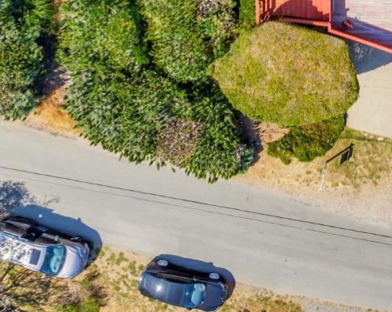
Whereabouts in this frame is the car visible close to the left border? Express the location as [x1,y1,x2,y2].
[0,217,90,283]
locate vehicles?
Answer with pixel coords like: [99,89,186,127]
[136,259,230,312]
[0,217,90,283]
